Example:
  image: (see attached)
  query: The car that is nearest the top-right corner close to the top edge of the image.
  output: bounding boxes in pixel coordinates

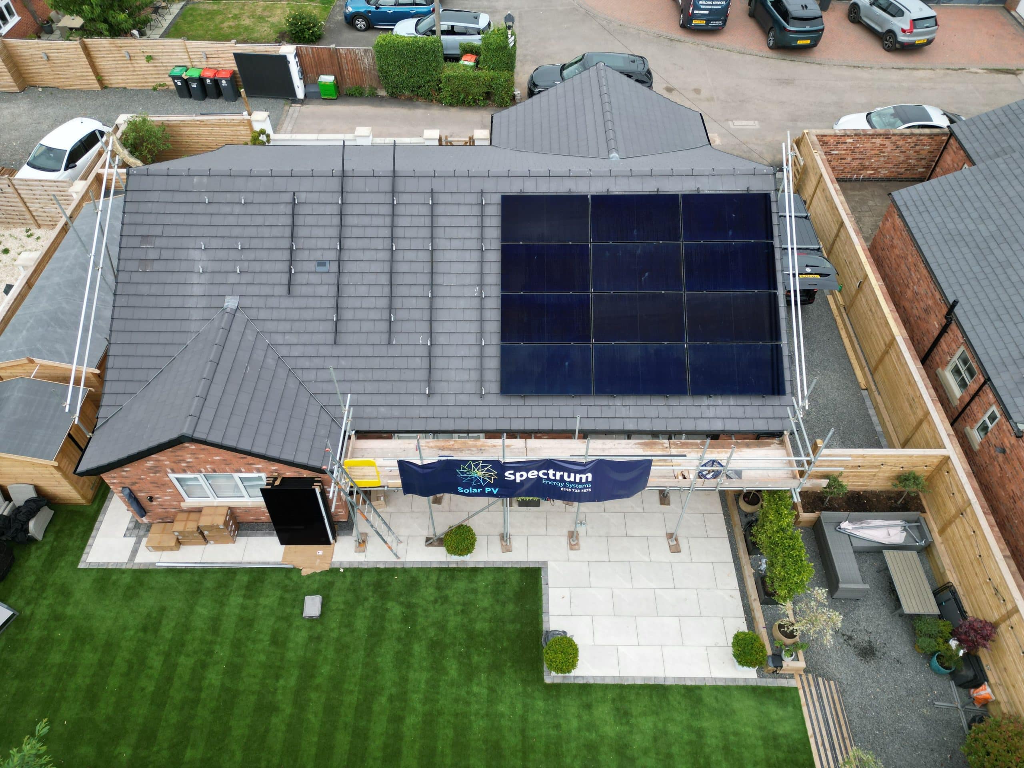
[854,0,945,51]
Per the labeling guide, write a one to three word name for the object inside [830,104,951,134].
car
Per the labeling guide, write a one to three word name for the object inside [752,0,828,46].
car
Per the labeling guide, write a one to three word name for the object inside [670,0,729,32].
van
